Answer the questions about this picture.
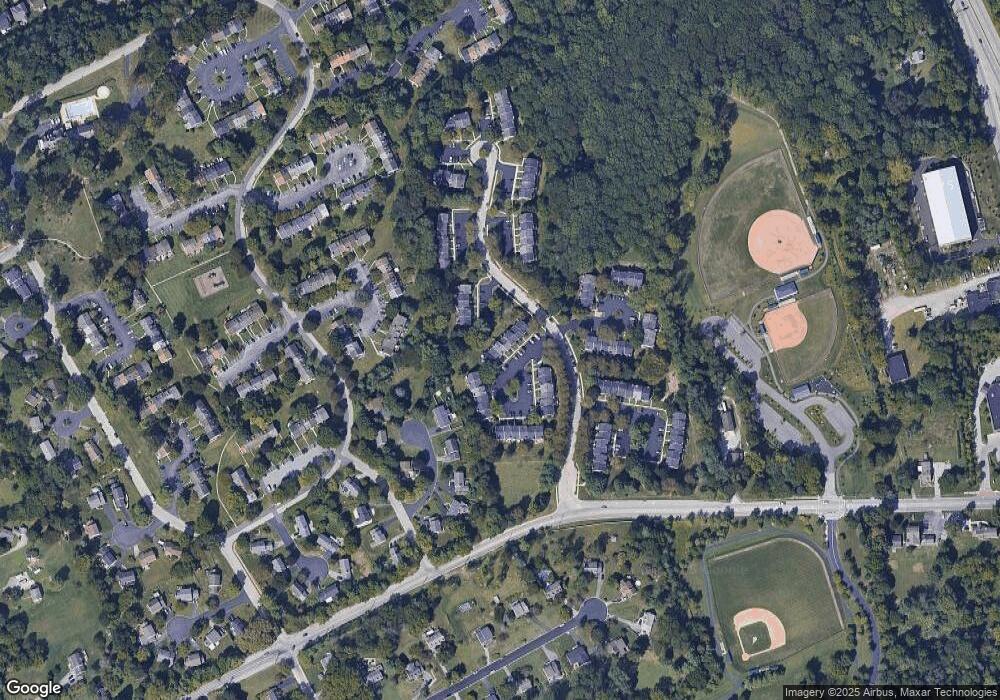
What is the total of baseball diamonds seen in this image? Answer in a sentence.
The count of baseball diamonds comes to 3.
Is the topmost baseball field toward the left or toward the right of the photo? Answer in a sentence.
The topmost baseball field is on the right side of the image.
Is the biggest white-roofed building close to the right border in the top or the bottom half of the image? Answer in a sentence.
Seen from above, the biggest white-roofed building close to the right border lies in the top half of the view.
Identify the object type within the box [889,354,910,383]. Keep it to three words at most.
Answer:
barn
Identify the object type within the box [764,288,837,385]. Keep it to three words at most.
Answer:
baseball field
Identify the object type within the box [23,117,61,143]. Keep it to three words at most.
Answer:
house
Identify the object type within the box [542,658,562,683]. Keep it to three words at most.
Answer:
house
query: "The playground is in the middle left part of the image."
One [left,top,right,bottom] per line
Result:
[193,268,229,298]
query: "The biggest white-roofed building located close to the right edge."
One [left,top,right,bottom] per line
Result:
[923,166,973,247]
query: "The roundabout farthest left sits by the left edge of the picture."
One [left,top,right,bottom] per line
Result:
[4,310,33,342]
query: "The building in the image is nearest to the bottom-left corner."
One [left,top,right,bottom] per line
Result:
[63,653,86,679]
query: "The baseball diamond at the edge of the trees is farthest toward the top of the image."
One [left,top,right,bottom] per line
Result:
[698,149,818,302]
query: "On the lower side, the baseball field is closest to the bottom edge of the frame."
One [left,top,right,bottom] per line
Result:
[706,539,843,668]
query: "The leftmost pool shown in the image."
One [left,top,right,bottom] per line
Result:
[62,97,100,123]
